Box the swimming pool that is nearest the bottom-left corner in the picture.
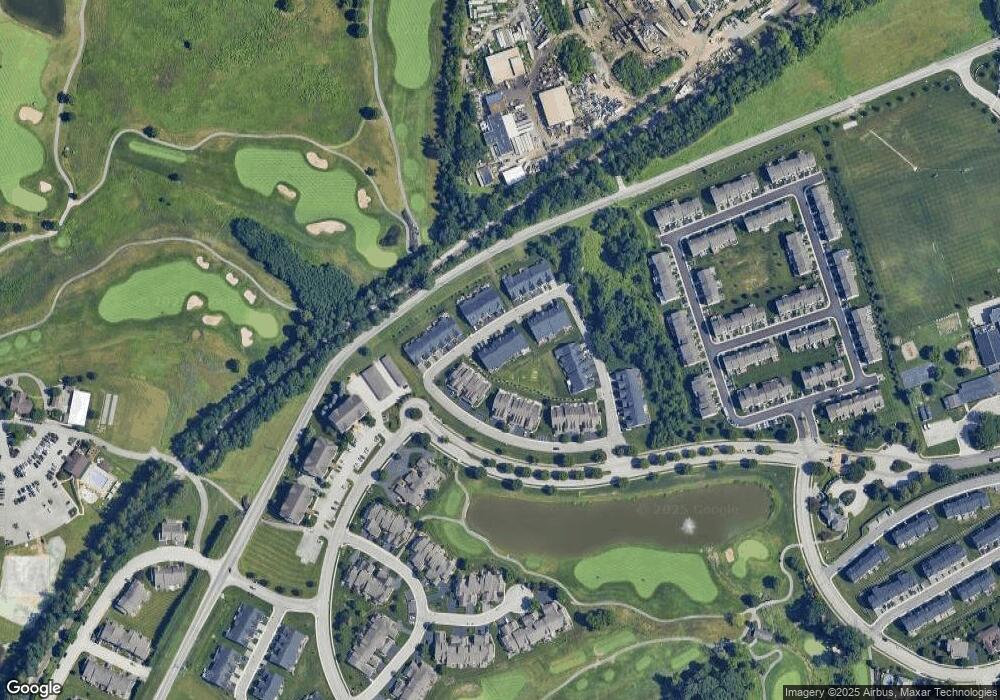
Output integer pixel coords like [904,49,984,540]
[90,469,109,487]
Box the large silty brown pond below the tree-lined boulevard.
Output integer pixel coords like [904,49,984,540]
[467,482,772,556]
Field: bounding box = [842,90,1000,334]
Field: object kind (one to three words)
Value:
sports field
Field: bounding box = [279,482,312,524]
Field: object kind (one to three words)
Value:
building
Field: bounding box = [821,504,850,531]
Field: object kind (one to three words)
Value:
house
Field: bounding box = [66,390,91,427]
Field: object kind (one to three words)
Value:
barn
